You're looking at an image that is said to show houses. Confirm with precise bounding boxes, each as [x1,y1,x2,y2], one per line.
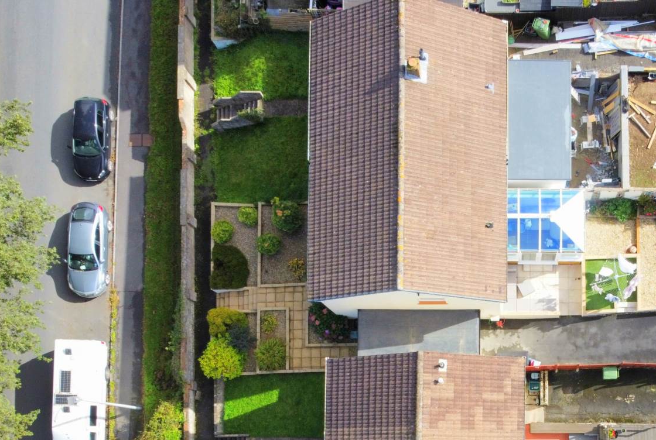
[307,0,510,324]
[321,351,527,440]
